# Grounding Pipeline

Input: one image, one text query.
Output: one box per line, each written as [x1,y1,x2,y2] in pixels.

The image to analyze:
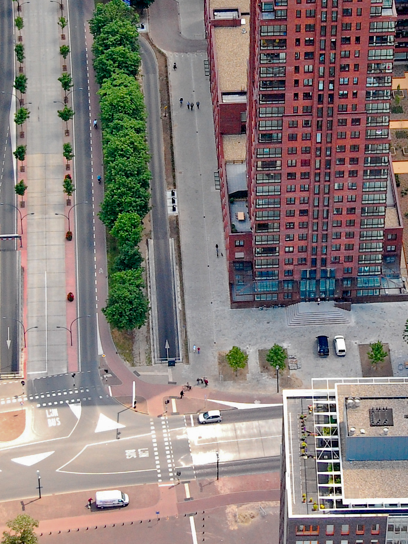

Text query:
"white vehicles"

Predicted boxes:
[334,337,345,356]
[96,489,127,507]
[197,409,222,424]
